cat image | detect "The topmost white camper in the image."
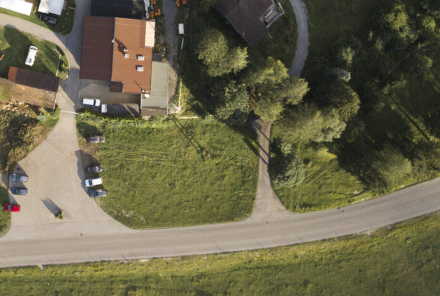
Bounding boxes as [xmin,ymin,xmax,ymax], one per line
[25,44,38,65]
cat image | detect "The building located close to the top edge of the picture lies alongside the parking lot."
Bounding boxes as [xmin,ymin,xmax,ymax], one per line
[80,0,168,115]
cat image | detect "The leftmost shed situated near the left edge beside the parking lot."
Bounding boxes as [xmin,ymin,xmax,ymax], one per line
[0,65,61,109]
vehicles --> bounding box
[101,102,140,118]
[84,177,102,185]
[39,13,57,24]
[87,164,102,174]
[11,187,27,195]
[25,44,38,65]
[82,97,101,107]
[87,134,106,144]
[88,188,107,197]
[12,172,30,182]
[5,202,21,212]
